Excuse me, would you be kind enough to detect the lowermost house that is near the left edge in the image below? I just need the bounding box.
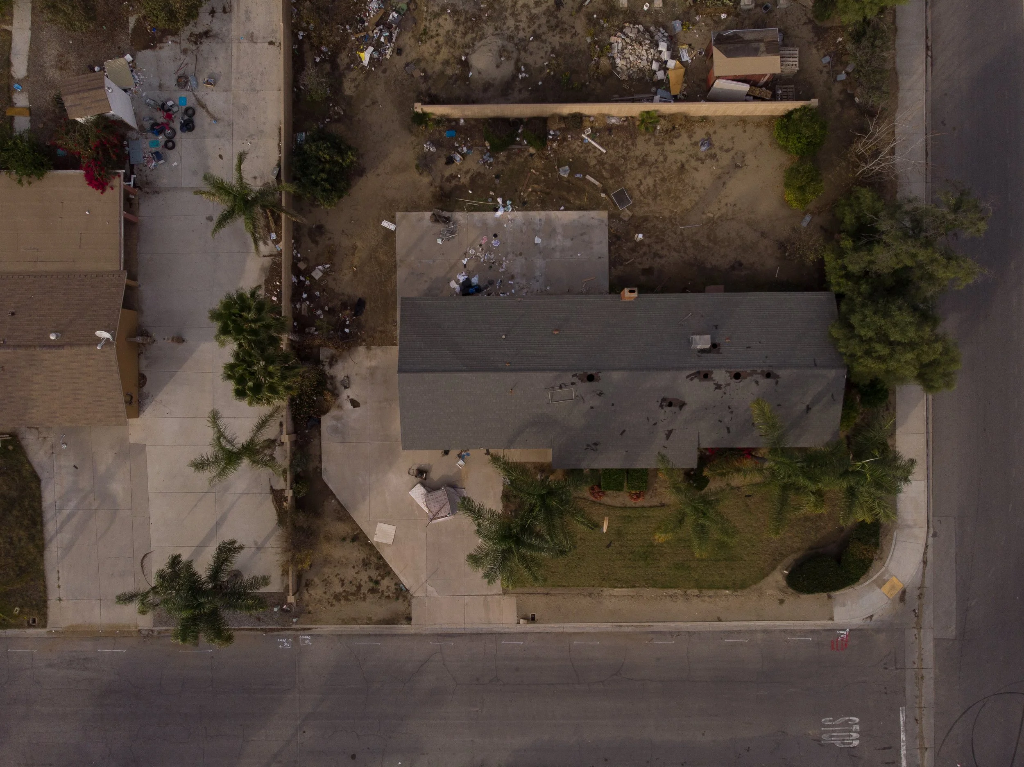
[0,166,138,427]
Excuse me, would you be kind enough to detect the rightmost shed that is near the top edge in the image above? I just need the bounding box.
[704,27,781,88]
